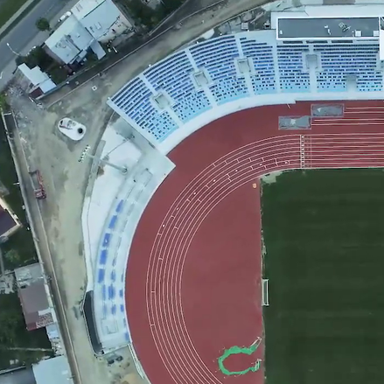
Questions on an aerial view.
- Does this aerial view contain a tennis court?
No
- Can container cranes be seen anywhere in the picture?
No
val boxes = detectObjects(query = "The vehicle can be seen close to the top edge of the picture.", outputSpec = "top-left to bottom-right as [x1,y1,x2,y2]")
[55,7,73,24]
